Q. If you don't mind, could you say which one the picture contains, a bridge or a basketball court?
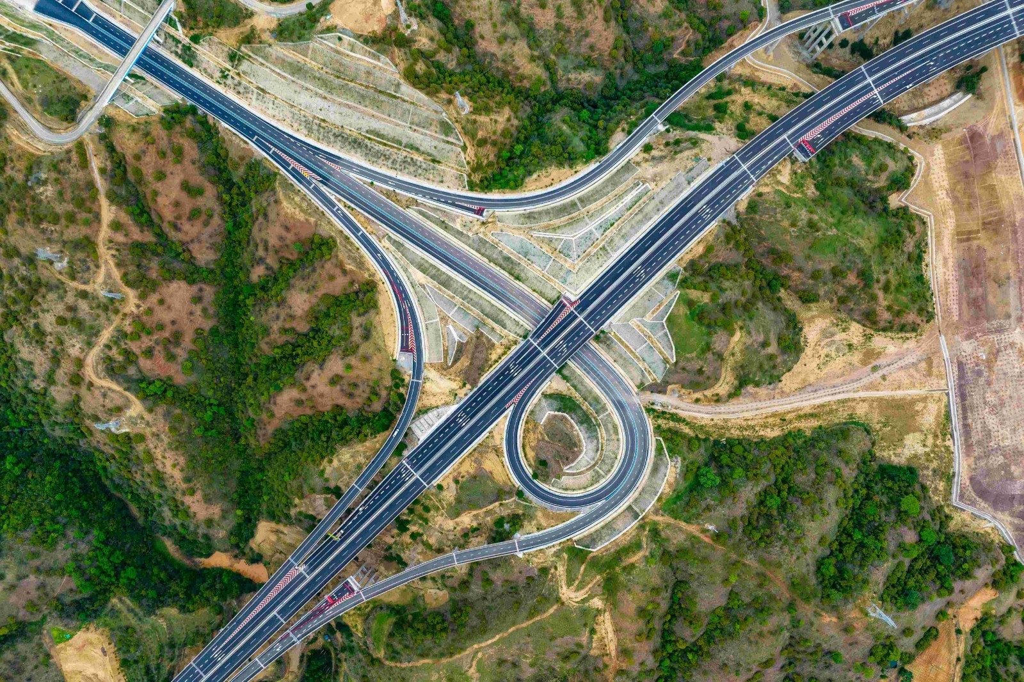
bridge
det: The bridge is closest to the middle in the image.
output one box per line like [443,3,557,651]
[528,297,595,368]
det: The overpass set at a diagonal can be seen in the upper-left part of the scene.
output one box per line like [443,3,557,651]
[96,0,176,103]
